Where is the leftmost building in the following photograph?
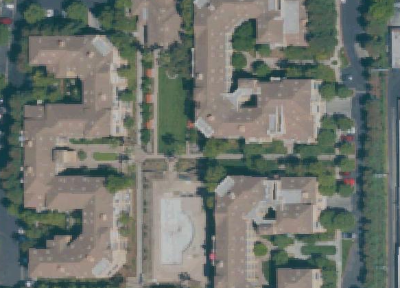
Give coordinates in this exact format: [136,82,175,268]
[24,36,130,278]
